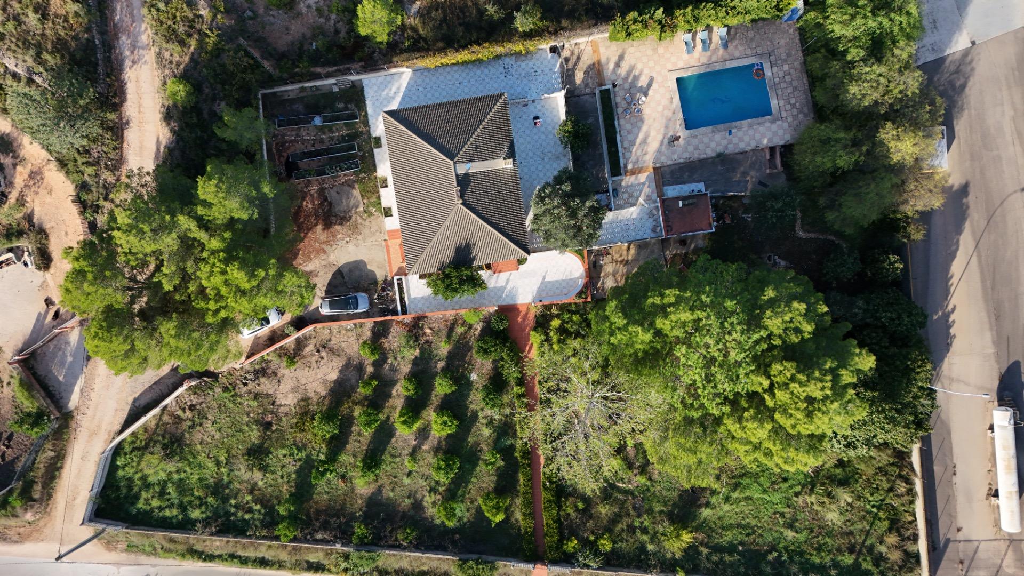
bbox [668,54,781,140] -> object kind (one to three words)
swimming pool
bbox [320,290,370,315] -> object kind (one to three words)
car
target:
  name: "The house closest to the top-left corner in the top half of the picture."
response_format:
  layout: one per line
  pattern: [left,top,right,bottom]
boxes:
[381,91,531,276]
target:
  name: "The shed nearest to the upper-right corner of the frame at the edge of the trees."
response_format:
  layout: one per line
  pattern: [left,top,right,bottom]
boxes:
[924,126,949,173]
